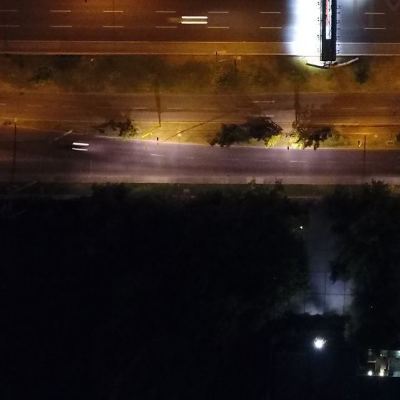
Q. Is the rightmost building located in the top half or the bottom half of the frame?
bottom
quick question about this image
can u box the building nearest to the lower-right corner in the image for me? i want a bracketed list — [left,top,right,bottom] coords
[366,343,400,379]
